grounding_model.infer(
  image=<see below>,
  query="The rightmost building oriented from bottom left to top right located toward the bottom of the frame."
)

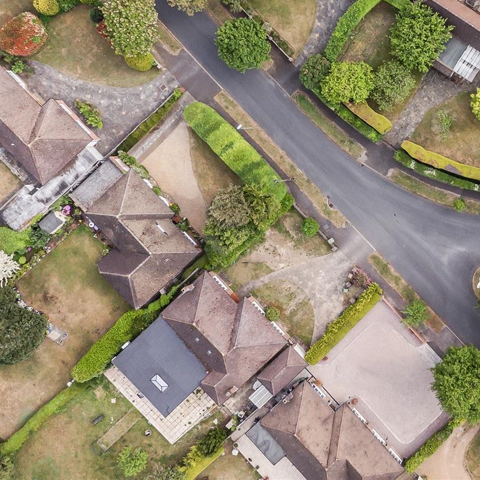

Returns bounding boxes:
[248,339,310,408]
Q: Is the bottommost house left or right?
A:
right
